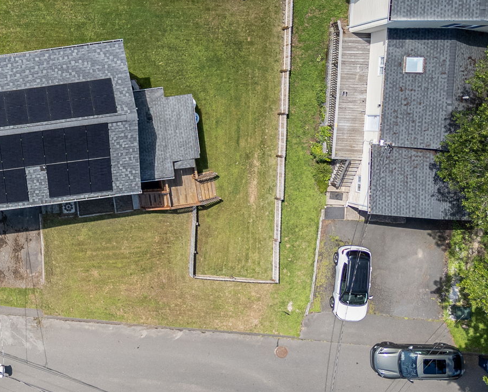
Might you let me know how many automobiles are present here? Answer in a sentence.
The count of automobiles comes to 2.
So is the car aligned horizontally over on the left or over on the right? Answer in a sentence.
You can find the car aligned horizontally on the right side of the picture.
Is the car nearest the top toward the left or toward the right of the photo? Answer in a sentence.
The car nearest the top is on the right side of the image.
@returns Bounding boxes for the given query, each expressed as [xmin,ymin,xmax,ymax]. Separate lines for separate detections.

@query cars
[368,339,464,386]
[329,243,375,322]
